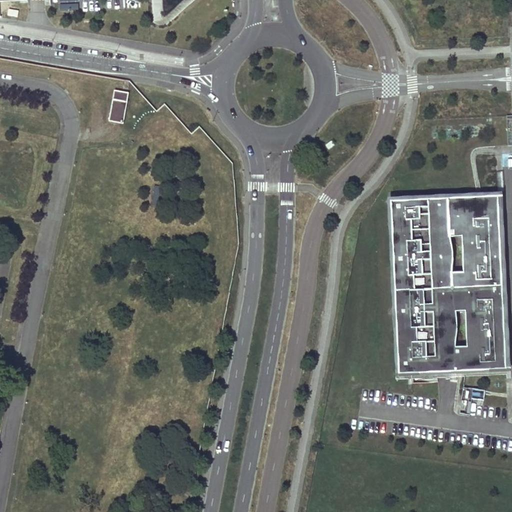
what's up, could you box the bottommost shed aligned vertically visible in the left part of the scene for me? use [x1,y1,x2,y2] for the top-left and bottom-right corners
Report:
[108,90,130,124]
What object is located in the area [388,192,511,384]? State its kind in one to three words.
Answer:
building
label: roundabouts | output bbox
[212,25,336,152]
